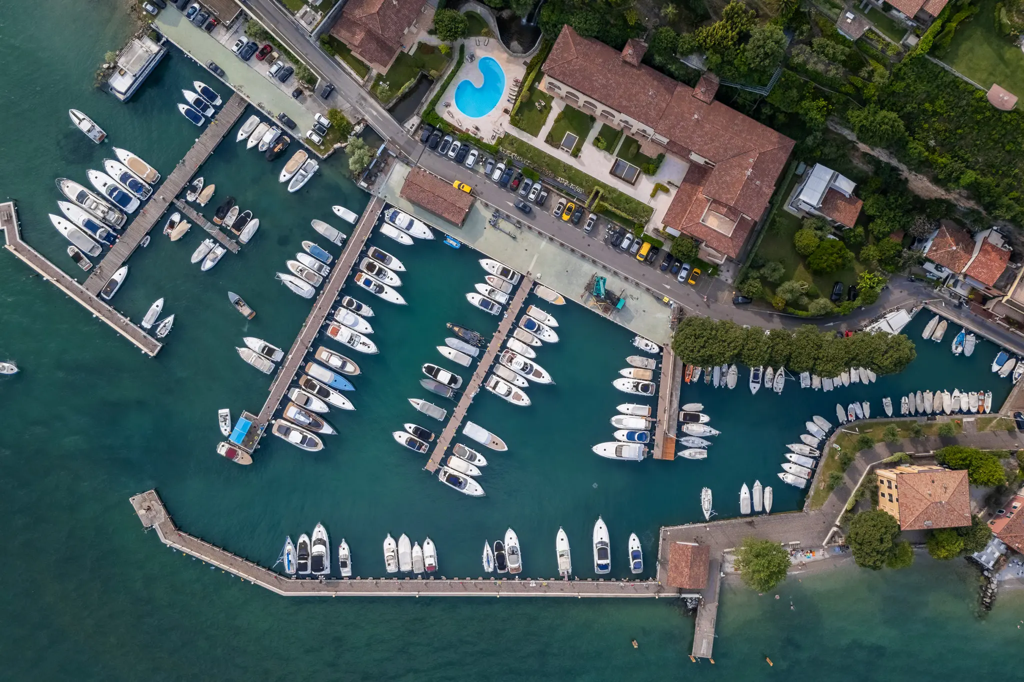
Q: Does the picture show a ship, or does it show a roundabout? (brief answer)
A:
ship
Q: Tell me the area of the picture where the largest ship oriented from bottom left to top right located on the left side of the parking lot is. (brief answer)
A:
top left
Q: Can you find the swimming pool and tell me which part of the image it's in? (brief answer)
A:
top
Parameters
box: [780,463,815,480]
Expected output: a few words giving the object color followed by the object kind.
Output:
white boat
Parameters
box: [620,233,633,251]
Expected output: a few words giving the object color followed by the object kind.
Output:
white vehicle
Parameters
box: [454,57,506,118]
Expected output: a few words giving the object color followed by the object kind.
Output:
blue swimming pool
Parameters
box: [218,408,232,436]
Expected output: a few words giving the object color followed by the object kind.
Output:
white boat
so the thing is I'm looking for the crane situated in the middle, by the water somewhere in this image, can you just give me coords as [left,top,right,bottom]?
[582,273,628,314]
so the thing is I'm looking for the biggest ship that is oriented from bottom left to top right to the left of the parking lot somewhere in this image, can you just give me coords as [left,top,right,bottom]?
[103,30,167,98]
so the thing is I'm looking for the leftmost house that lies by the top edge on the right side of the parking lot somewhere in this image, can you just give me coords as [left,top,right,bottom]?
[329,0,427,73]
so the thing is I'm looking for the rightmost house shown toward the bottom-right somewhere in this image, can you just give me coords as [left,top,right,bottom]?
[982,486,1024,553]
